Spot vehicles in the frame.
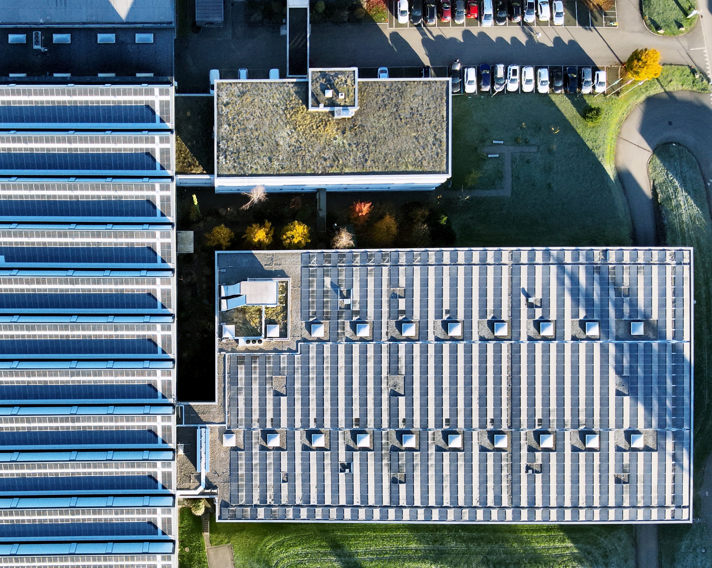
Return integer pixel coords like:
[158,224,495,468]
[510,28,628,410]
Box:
[424,3,437,29]
[438,0,452,26]
[350,65,359,79]
[237,69,249,79]
[463,68,475,95]
[550,2,564,27]
[535,70,548,94]
[477,66,491,92]
[479,0,493,28]
[396,0,410,27]
[578,70,593,94]
[509,1,523,27]
[549,71,564,95]
[466,1,477,22]
[522,0,536,25]
[408,0,422,26]
[494,2,507,27]
[453,1,465,26]
[520,67,534,94]
[377,67,388,79]
[269,69,281,79]
[419,68,430,79]
[565,69,578,94]
[536,0,549,24]
[209,72,220,93]
[449,64,462,94]
[491,66,505,93]
[593,71,606,95]
[505,66,519,93]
